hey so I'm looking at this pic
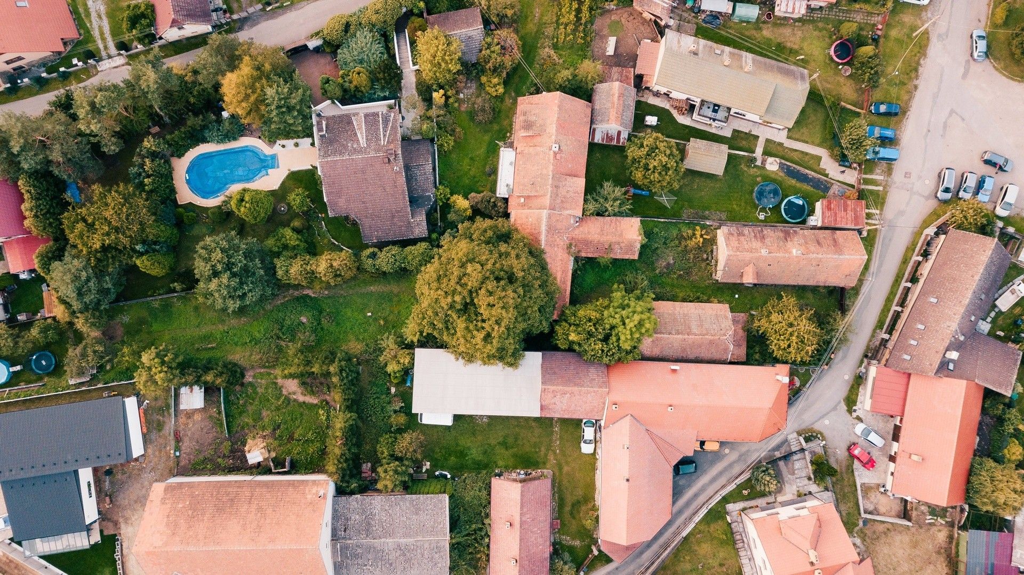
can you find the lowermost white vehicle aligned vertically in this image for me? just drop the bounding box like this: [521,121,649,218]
[580,419,596,453]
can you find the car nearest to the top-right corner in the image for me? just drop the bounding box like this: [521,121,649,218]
[969,30,988,63]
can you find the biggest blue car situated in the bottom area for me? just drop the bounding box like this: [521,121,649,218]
[673,460,697,477]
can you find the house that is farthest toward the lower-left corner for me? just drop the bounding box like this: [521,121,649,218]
[0,467,99,542]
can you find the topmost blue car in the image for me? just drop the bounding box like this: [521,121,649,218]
[868,100,900,117]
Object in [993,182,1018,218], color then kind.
white car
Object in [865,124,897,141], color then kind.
blue car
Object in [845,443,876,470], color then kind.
red car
